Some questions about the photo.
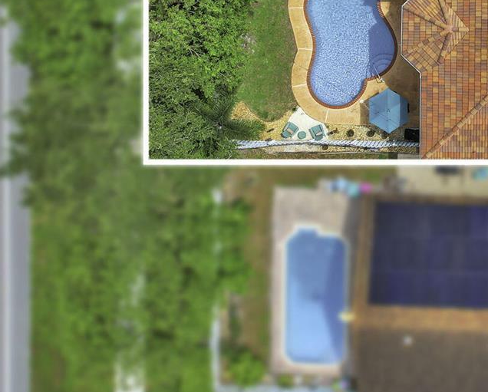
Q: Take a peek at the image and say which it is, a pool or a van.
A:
pool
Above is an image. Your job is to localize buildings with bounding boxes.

[349,200,488,392]
[398,0,488,167]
